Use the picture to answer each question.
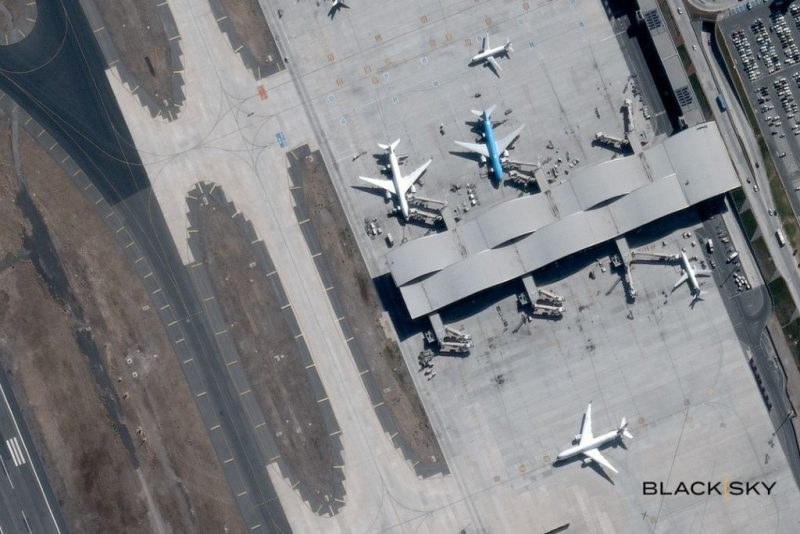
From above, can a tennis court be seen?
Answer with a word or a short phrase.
No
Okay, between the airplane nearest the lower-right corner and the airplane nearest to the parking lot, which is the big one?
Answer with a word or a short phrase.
the airplane nearest the lower-right corner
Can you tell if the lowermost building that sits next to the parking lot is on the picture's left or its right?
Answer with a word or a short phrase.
right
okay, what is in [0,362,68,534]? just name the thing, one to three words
runway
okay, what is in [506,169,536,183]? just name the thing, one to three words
jet bridge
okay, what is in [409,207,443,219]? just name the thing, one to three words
jet bridge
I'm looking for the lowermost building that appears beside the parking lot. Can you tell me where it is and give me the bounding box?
[387,120,741,319]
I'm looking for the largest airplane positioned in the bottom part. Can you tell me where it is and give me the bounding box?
[558,404,633,472]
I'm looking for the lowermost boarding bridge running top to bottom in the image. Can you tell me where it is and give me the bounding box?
[626,264,638,300]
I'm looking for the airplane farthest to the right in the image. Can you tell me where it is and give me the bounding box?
[669,252,716,301]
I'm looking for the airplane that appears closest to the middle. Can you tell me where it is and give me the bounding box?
[358,140,434,220]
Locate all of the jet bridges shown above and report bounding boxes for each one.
[409,207,443,219]
[439,340,473,349]
[537,288,566,302]
[506,169,536,183]
[533,303,566,313]
[500,157,541,169]
[626,264,638,300]
[630,250,683,262]
[444,326,473,340]
[410,197,449,208]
